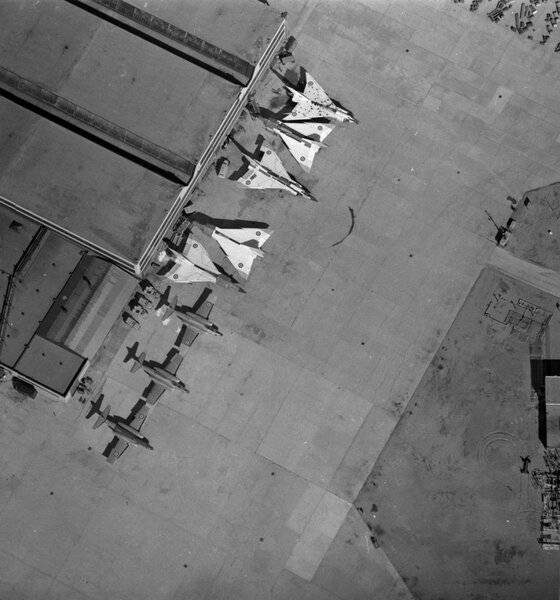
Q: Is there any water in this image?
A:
No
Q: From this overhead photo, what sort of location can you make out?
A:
airport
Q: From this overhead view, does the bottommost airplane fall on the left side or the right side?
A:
left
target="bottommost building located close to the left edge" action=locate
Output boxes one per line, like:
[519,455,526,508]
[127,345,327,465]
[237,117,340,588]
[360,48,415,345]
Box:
[15,335,91,398]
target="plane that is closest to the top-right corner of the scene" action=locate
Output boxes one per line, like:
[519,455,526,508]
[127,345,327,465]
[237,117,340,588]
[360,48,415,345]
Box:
[284,72,362,128]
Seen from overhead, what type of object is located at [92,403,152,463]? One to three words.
airplane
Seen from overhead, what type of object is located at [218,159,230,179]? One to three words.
vehicle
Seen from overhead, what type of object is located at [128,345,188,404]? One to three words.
airplane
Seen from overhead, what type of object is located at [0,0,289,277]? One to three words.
hangar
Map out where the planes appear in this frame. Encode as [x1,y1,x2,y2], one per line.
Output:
[128,345,188,404]
[253,111,334,173]
[284,72,362,128]
[186,214,273,279]
[167,237,250,296]
[92,403,152,463]
[240,145,322,206]
[162,288,222,346]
